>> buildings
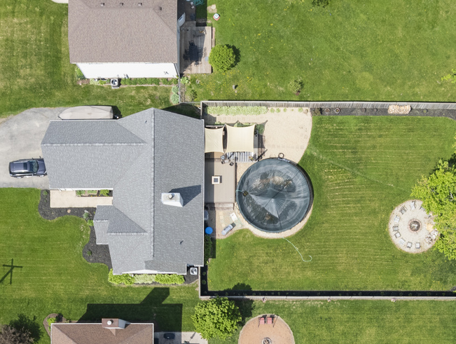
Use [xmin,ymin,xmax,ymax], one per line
[51,315,156,344]
[67,0,178,77]
[42,108,204,275]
